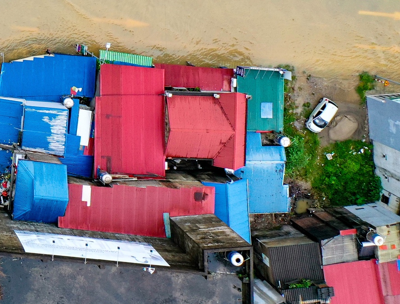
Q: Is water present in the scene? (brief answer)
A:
Yes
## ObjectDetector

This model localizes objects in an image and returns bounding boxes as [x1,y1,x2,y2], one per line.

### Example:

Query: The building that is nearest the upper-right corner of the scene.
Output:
[345,87,400,151]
